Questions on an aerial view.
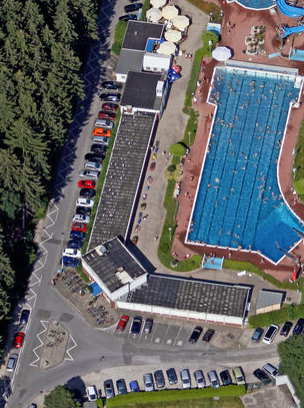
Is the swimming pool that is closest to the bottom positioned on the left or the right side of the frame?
right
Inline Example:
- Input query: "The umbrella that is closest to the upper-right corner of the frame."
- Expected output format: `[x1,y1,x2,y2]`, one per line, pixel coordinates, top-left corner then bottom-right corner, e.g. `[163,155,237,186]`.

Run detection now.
[212,45,231,62]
